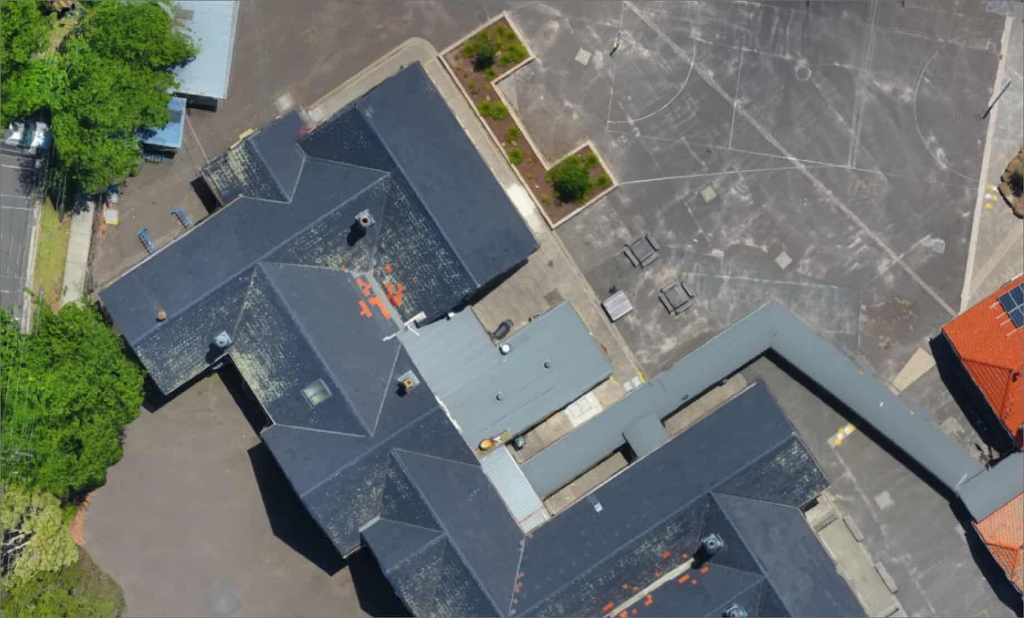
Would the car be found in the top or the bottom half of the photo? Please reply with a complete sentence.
It is in the top half that the car appears.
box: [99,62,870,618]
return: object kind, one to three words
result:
building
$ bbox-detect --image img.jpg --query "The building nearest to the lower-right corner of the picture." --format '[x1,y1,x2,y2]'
[972,491,1024,601]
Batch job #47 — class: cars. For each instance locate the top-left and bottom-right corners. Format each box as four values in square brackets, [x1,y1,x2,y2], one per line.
[0,122,50,152]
